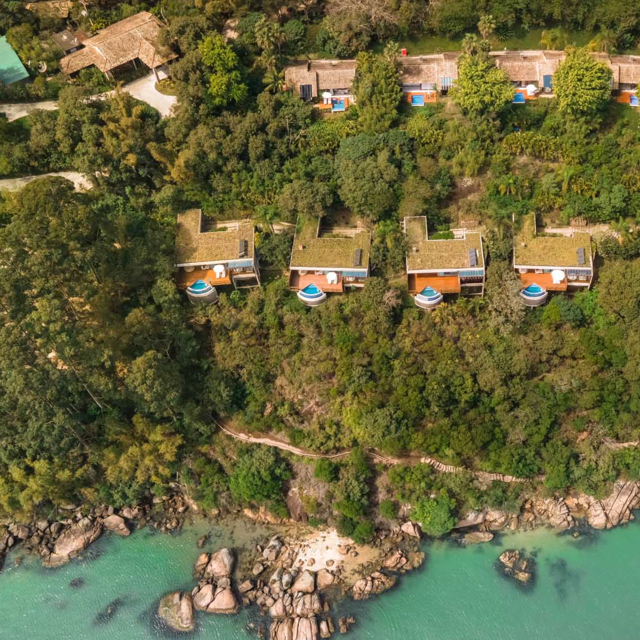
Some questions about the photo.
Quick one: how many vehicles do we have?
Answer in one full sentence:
There are no vehicles in the image.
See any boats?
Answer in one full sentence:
No, the scene contains no boat.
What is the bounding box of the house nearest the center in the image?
[290,216,373,310]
